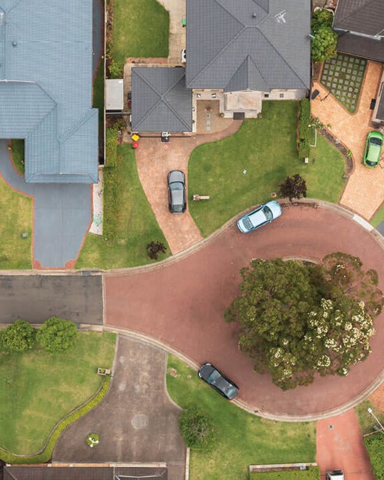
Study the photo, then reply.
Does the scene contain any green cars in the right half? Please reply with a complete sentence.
Yes, I can see a green car in the right half.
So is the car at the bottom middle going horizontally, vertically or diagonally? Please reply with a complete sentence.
In this picture, the car at the bottom middle is oriented diagonally.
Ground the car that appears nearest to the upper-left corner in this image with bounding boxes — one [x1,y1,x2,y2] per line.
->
[167,170,187,214]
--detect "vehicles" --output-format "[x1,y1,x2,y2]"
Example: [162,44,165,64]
[236,201,282,234]
[326,468,346,480]
[167,170,187,214]
[198,363,241,399]
[362,130,384,169]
